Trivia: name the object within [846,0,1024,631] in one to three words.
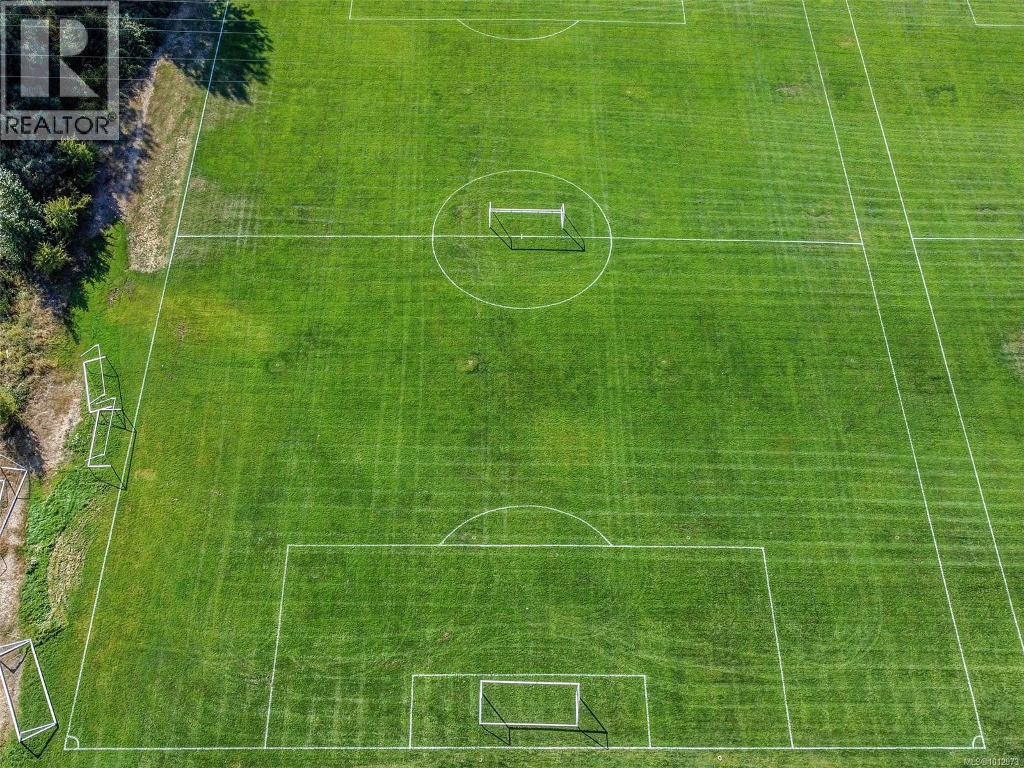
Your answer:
soccer field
